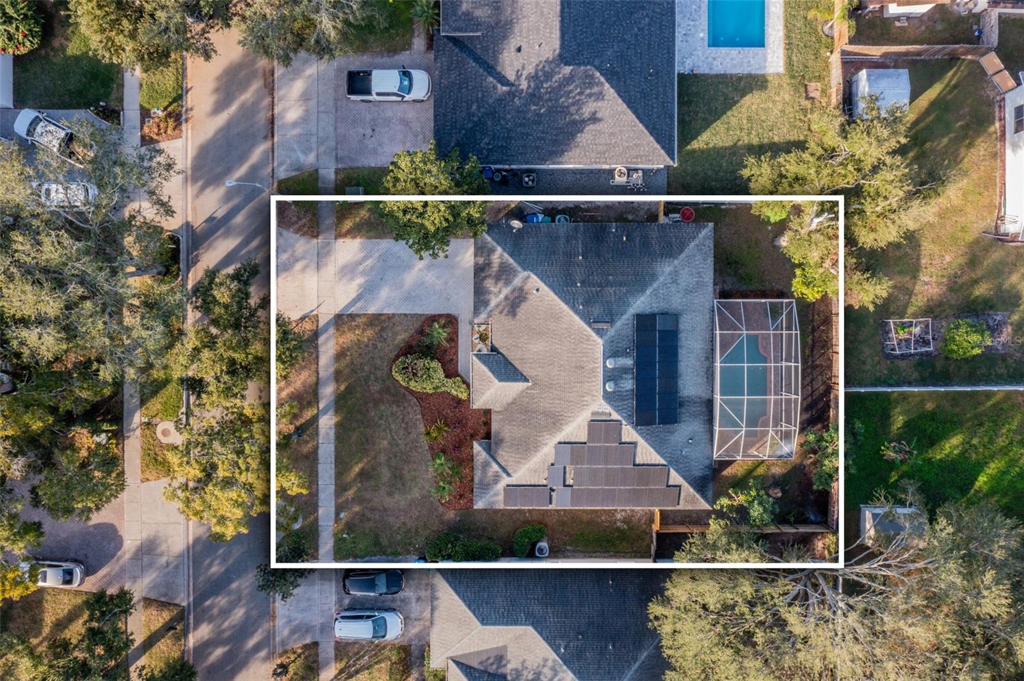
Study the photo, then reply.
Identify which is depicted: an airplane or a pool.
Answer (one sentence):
Of the two, only a pool appears.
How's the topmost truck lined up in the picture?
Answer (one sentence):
The topmost truck is laid out from left to right.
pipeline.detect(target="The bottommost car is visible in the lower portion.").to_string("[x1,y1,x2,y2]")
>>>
[335,607,405,646]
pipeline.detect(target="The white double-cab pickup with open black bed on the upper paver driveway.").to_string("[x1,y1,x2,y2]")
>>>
[345,64,431,104]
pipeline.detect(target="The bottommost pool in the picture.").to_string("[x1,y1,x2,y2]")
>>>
[716,332,771,442]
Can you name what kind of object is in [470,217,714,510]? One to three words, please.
house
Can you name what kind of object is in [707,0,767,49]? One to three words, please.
swimming pool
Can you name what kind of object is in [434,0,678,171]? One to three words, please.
house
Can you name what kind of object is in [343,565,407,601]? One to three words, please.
car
